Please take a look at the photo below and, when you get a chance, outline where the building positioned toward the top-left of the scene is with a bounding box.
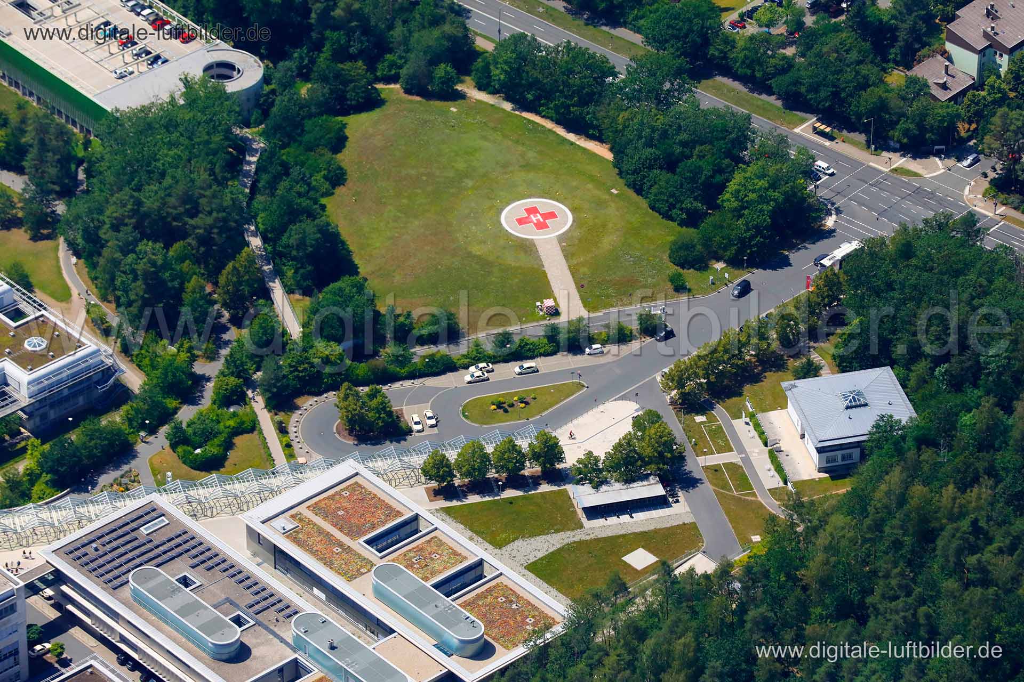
[0,0,264,141]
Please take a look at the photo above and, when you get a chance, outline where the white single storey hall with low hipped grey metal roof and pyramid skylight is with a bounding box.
[781,366,925,463]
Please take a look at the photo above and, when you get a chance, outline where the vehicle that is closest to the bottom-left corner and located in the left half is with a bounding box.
[30,644,51,659]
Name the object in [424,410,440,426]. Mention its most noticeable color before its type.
white car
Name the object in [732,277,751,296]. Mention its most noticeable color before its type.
black vehicle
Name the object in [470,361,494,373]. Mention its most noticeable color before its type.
white vehicle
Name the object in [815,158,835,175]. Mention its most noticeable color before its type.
white car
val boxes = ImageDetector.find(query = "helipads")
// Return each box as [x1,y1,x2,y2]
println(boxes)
[500,198,573,238]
